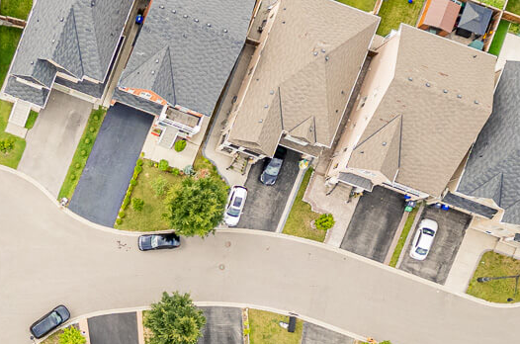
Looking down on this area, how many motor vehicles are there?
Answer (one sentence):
I count 5 motor vehicles.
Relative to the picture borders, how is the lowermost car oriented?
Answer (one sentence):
The lowermost car runs on a diagonal in the image.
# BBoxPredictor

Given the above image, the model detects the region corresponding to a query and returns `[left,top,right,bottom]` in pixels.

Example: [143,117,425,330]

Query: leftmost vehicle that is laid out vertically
[224,184,248,227]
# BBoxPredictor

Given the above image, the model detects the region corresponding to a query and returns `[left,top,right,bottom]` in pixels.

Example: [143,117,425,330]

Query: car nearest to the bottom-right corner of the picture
[409,217,437,261]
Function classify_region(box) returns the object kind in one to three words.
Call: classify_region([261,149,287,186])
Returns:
car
